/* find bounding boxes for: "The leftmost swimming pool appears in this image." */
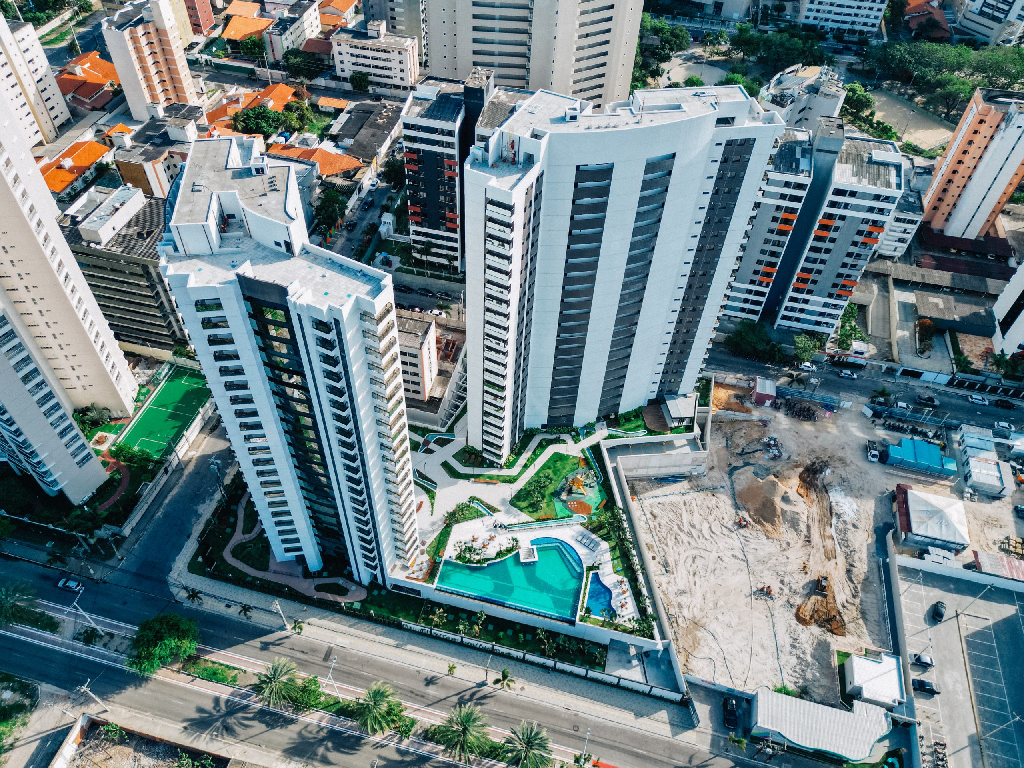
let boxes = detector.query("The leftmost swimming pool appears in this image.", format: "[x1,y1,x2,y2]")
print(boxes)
[436,537,585,620]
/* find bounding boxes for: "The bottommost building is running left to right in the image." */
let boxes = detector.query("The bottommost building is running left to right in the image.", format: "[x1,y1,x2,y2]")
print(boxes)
[749,689,891,768]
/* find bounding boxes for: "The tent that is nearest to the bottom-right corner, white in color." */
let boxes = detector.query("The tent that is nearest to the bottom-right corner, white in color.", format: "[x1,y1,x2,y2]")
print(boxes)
[906,491,969,551]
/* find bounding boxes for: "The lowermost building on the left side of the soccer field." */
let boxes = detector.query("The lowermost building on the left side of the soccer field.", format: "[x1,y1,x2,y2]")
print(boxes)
[0,292,108,506]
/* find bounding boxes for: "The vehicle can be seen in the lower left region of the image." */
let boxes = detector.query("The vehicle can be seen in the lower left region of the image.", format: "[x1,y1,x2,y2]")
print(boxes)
[54,576,83,593]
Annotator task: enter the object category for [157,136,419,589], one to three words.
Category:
building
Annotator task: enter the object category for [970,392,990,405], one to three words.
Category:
vehicle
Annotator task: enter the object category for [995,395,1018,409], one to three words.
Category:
car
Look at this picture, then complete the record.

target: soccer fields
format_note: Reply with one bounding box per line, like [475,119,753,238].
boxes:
[119,365,211,462]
